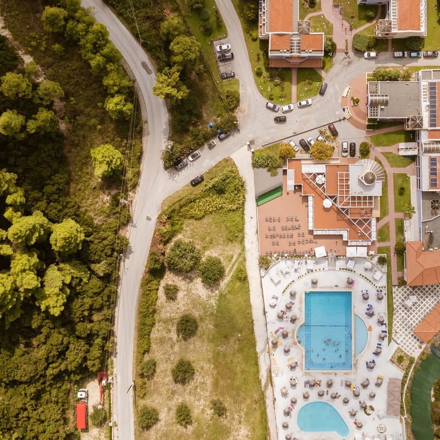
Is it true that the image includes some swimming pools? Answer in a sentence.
Yes, I can see a swimming pool in this picture.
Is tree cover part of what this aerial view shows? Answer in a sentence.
Yes, some tree cover is visible.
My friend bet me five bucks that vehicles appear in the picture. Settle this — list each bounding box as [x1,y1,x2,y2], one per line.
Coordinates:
[206,140,218,149]
[306,135,313,147]
[329,123,339,137]
[190,175,204,187]
[217,44,232,52]
[394,52,407,58]
[175,160,189,170]
[188,150,202,161]
[409,52,422,58]
[342,142,347,157]
[319,82,328,97]
[287,139,300,153]
[349,142,356,157]
[222,72,235,79]
[265,102,279,112]
[281,104,294,112]
[364,53,377,59]
[424,52,438,58]
[218,54,233,61]
[299,137,309,151]
[273,116,287,123]
[215,131,230,141]
[297,100,312,107]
